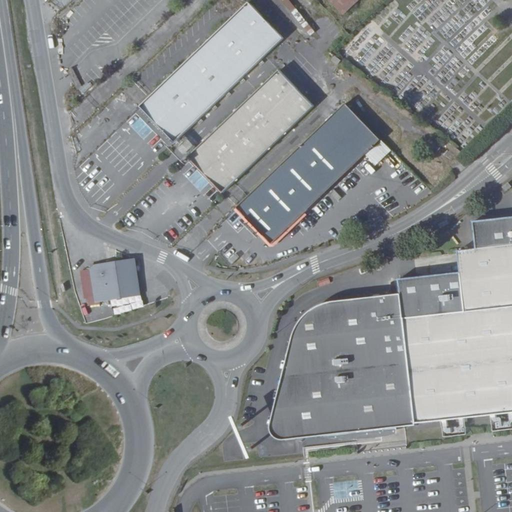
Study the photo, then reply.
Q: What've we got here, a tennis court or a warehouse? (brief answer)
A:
warehouse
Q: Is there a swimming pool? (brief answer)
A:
No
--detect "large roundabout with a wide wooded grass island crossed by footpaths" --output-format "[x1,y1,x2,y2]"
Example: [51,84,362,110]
[0,333,154,512]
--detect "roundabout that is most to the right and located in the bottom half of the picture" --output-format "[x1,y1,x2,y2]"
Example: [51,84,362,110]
[178,281,266,369]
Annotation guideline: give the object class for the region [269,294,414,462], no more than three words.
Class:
building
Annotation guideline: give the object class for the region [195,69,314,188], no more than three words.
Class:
warehouse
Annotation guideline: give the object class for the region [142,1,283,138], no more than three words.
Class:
warehouse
